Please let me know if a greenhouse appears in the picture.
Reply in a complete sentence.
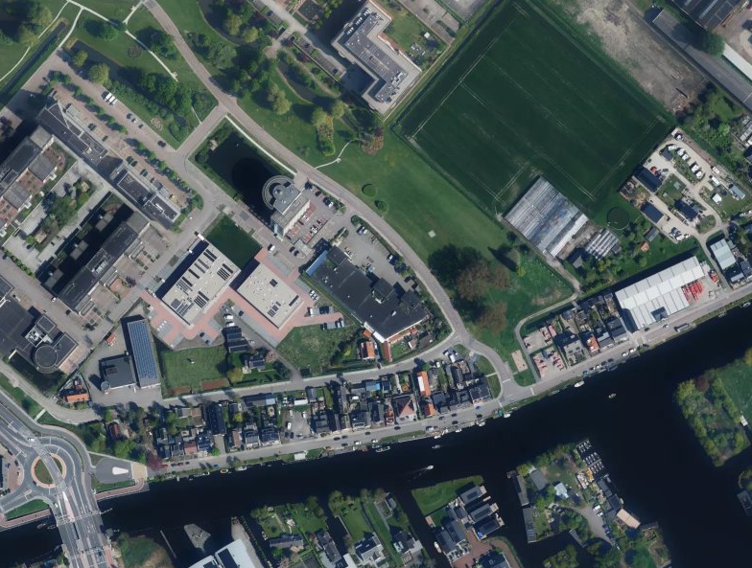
Yes, the image includes a greenhouse.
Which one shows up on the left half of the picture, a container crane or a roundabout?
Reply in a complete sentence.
The one visible on the left half of the picture is a roundabout.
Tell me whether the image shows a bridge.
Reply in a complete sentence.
Yes, there is a bridge in the image.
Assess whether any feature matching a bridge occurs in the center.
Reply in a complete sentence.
No, I can find no bridge in the center.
